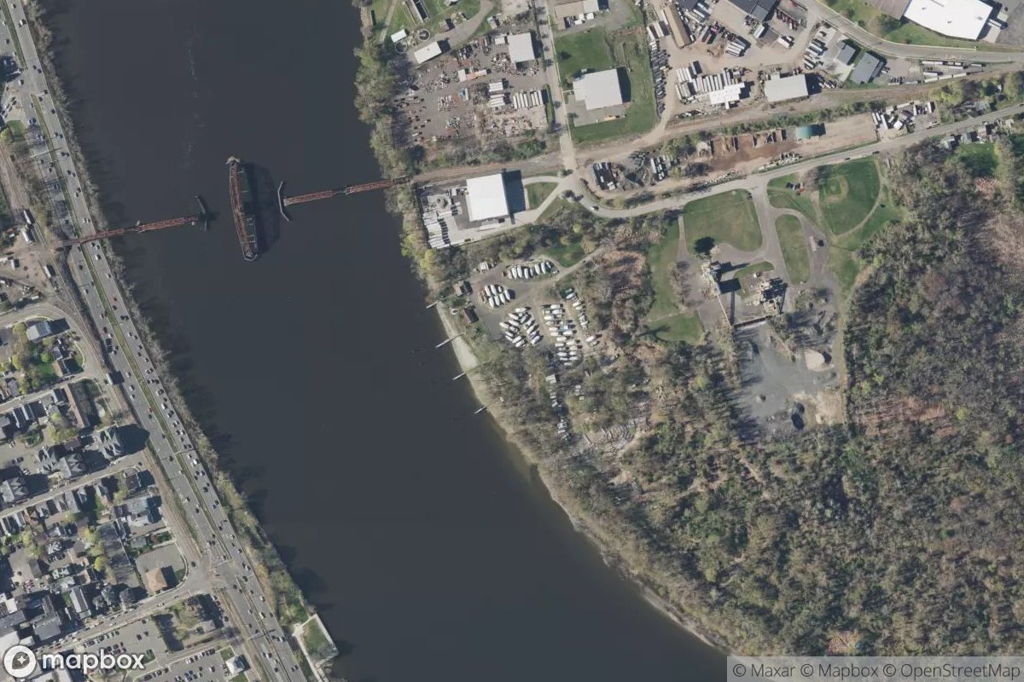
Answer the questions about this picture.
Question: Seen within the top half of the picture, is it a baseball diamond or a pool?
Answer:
baseball diamond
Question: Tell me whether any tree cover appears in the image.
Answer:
Yes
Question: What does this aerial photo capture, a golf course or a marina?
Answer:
marina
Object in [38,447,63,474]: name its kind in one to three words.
house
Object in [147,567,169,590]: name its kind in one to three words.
house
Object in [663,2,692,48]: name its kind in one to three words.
shed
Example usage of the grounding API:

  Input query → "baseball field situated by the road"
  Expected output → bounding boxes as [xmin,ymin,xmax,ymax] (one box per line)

[819,157,882,239]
